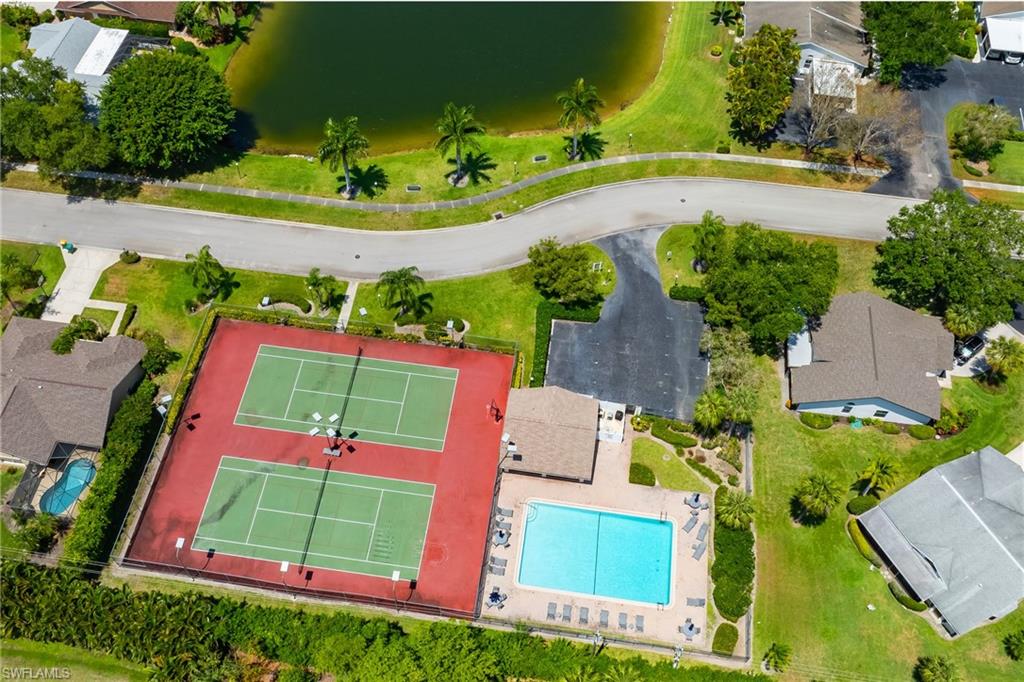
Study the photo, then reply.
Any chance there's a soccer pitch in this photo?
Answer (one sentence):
No, no soccer pitch is visible in the scene.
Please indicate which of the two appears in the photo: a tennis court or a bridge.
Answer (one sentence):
This aerial view contains a tennis court.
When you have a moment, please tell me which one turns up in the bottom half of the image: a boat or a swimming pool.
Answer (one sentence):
Looking in the bottom half of the image, you will find a swimming pool.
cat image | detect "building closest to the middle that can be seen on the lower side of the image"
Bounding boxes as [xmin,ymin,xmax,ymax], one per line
[501,386,598,488]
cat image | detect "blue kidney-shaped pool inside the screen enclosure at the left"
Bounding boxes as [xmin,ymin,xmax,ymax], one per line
[37,456,98,518]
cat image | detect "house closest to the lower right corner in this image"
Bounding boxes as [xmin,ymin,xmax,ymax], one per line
[854,446,1024,637]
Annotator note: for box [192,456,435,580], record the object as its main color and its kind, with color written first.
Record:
green tennis court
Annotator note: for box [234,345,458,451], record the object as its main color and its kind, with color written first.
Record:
green tennis court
